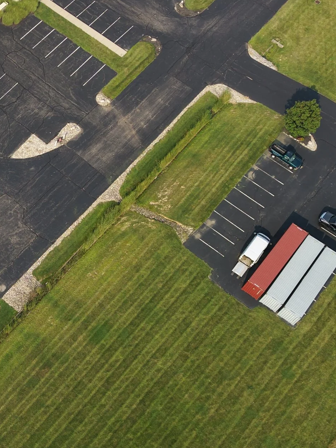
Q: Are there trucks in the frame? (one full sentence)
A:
Yes, the picture does show a truck.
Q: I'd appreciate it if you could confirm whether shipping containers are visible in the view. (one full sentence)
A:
Yes, a shipping container can be made out from above.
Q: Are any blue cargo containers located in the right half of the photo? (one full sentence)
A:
No, there is no blue cargo container in the right half of the photo.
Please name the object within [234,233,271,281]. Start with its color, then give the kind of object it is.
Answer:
white truck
